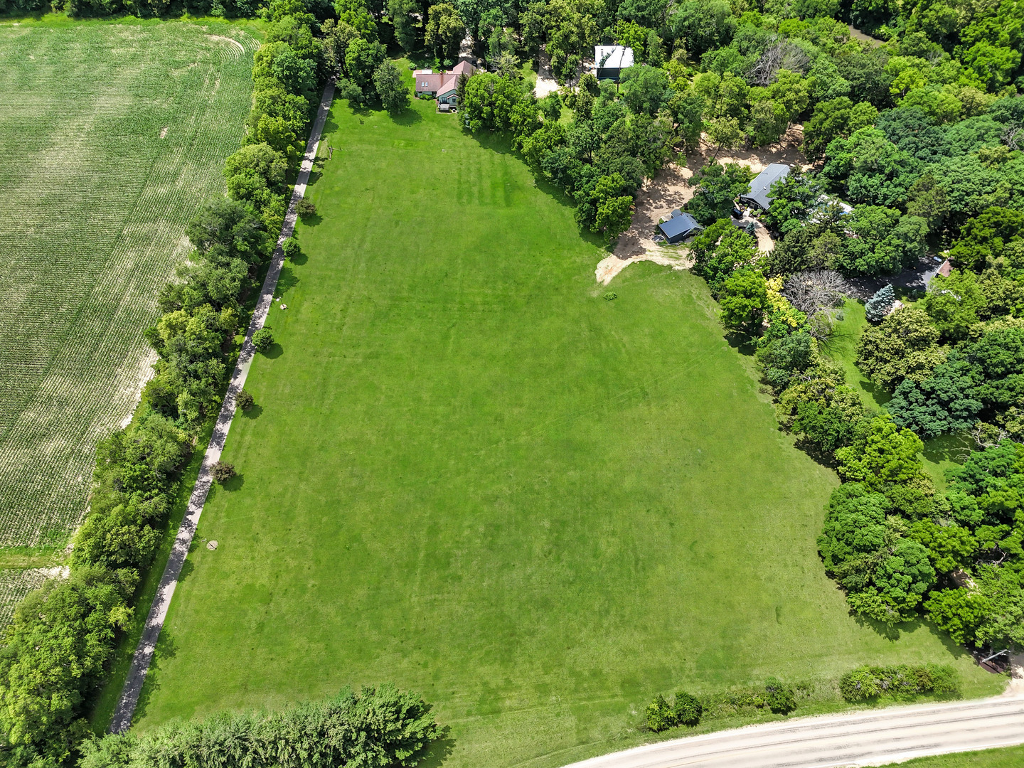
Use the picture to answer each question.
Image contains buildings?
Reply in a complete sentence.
Yes, a building can be made out from above.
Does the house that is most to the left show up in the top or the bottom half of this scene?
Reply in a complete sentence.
The house that is most to the left sits in the top half of the picture.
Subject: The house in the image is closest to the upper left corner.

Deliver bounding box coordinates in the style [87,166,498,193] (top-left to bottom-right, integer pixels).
[416,60,477,110]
